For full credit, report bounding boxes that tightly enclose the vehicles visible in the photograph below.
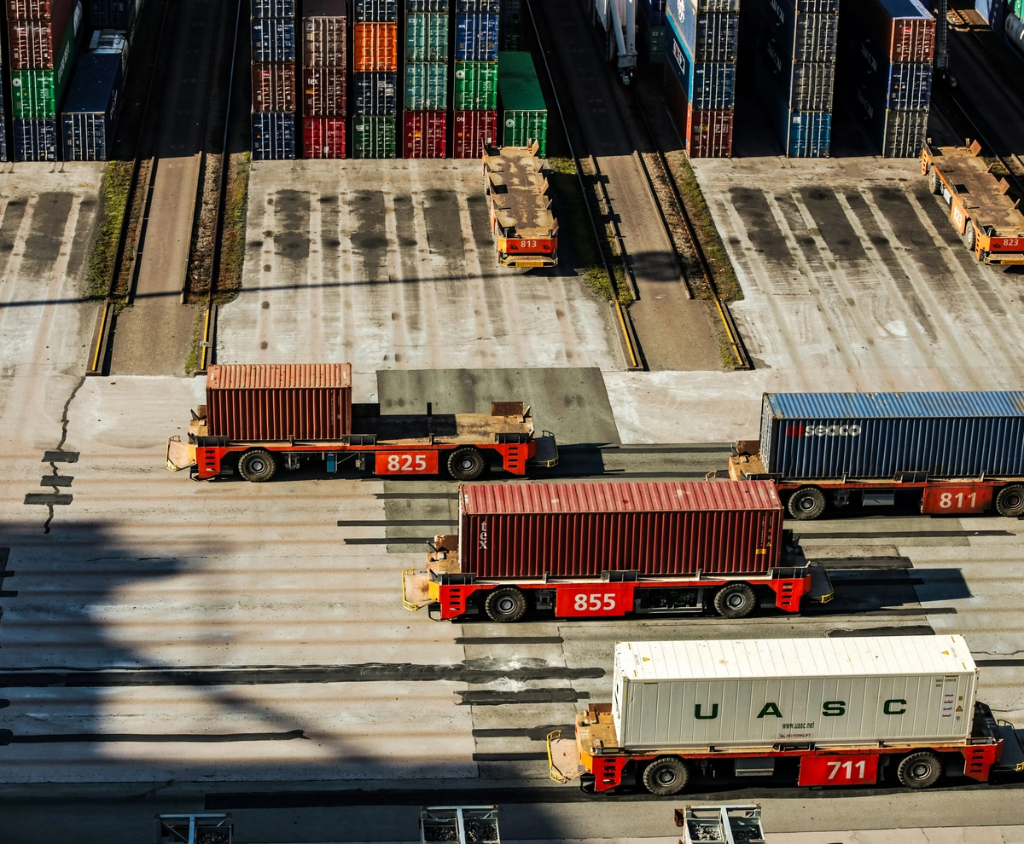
[705,441,1024,517]
[923,141,1024,266]
[482,140,558,266]
[401,531,834,620]
[548,694,1024,794]
[165,404,557,481]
